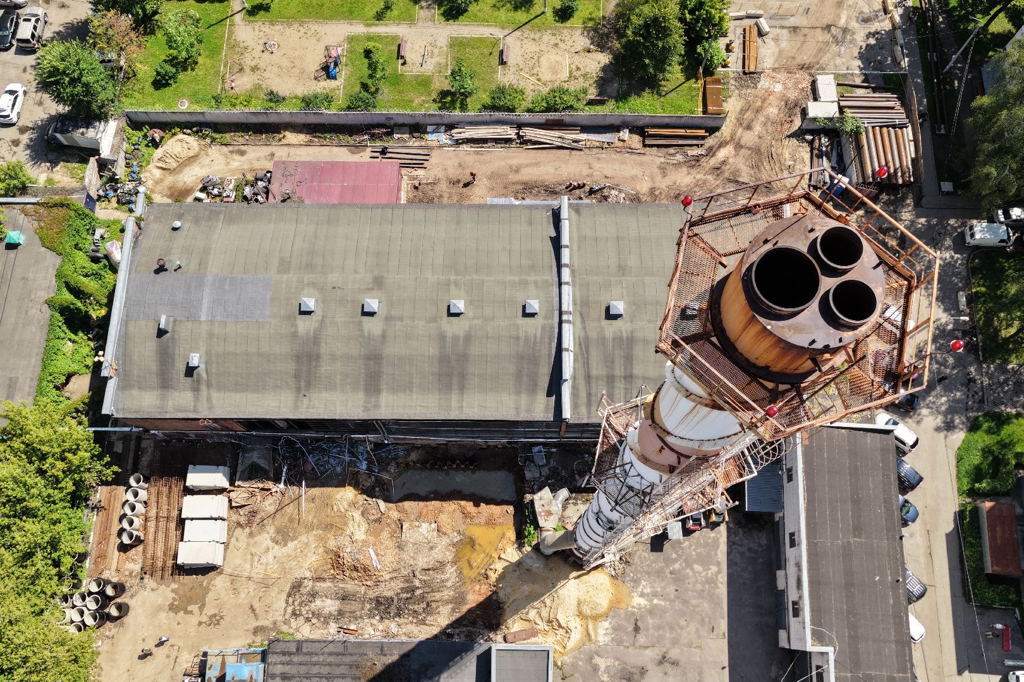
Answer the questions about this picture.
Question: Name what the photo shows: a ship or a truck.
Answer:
truck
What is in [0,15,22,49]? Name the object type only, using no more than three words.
car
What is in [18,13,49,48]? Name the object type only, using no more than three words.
car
